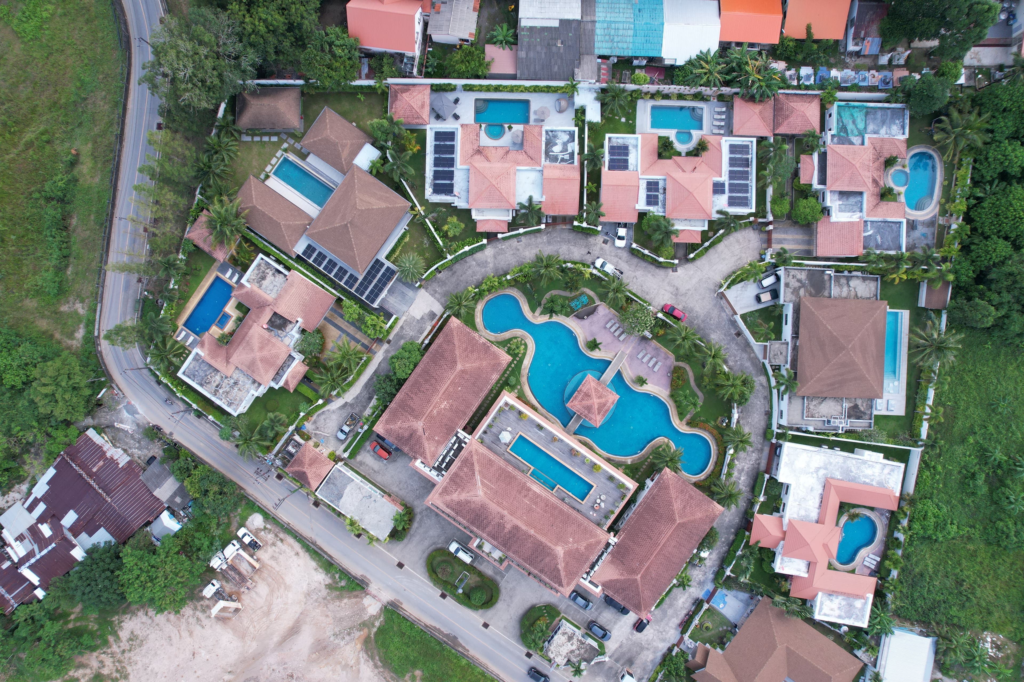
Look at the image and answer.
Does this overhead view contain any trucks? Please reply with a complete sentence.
Yes, I can see a truck in this picture.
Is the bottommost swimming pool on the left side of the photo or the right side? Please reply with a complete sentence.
The bottommost swimming pool is on the right side of the image.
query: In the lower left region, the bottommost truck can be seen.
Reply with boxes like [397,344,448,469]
[194,580,237,628]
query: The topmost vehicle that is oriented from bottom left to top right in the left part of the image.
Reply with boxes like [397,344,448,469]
[336,413,358,441]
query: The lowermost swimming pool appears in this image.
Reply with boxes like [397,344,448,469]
[831,509,883,570]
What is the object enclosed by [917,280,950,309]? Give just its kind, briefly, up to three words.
shed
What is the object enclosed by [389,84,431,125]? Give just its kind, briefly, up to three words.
gazebo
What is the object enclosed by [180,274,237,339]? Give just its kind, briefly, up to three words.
swimming pool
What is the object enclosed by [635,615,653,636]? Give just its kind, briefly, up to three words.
car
